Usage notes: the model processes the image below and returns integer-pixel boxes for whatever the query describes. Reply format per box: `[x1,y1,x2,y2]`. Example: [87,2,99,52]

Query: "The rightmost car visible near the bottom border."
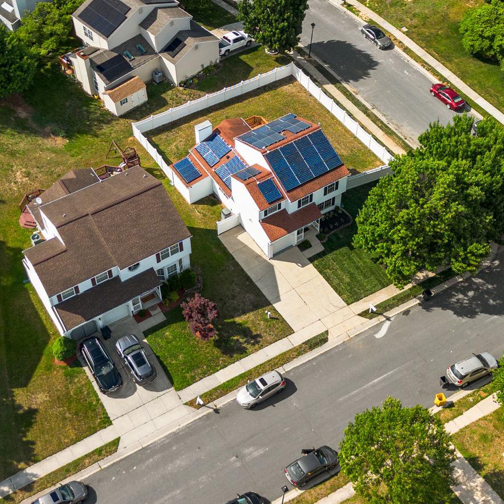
[281,445,343,490]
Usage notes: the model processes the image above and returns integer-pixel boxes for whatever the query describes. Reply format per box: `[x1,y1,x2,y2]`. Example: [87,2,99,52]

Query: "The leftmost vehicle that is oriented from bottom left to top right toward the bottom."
[235,367,288,409]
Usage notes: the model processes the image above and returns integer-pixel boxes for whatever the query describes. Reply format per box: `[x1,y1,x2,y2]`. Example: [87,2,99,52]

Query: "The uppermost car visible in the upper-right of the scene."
[358,25,395,49]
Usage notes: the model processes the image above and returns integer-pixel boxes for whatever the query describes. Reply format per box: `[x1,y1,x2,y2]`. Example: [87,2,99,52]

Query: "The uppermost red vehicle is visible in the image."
[429,83,469,111]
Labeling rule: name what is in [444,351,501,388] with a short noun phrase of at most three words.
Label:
car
